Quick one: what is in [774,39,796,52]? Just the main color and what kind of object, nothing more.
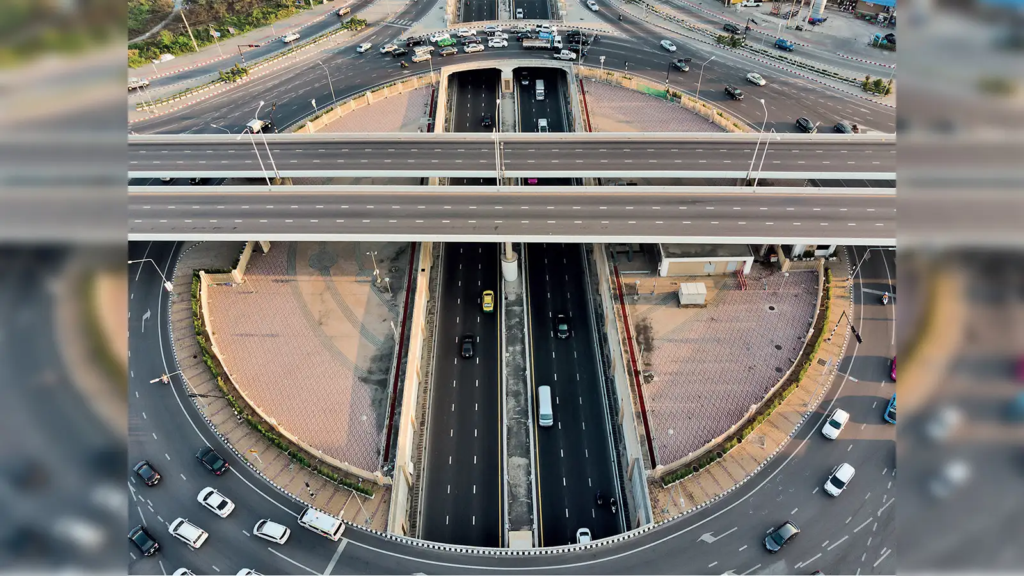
blue vehicle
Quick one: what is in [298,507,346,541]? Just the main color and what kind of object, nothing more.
white van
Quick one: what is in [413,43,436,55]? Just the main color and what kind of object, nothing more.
white vehicle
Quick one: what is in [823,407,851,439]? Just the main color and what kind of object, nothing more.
white car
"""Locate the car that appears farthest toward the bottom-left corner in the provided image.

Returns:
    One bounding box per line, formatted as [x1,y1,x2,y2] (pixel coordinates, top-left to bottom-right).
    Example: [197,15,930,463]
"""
[126,525,162,559]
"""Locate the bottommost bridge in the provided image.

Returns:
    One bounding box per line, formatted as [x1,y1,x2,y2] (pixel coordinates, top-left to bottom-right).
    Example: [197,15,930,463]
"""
[387,520,651,552]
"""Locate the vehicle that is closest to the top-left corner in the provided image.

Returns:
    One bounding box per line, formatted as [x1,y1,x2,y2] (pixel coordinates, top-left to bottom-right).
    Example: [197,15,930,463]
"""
[122,79,148,91]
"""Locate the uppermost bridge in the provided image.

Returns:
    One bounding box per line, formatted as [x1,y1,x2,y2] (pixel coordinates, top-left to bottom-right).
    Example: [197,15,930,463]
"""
[393,22,620,97]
